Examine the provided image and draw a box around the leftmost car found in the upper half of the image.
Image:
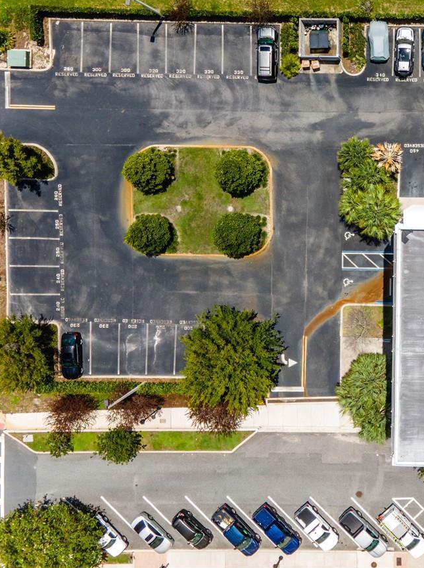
[253,27,279,82]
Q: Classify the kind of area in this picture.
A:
parking lot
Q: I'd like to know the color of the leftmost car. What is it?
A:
black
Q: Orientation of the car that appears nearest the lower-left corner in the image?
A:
at an angle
